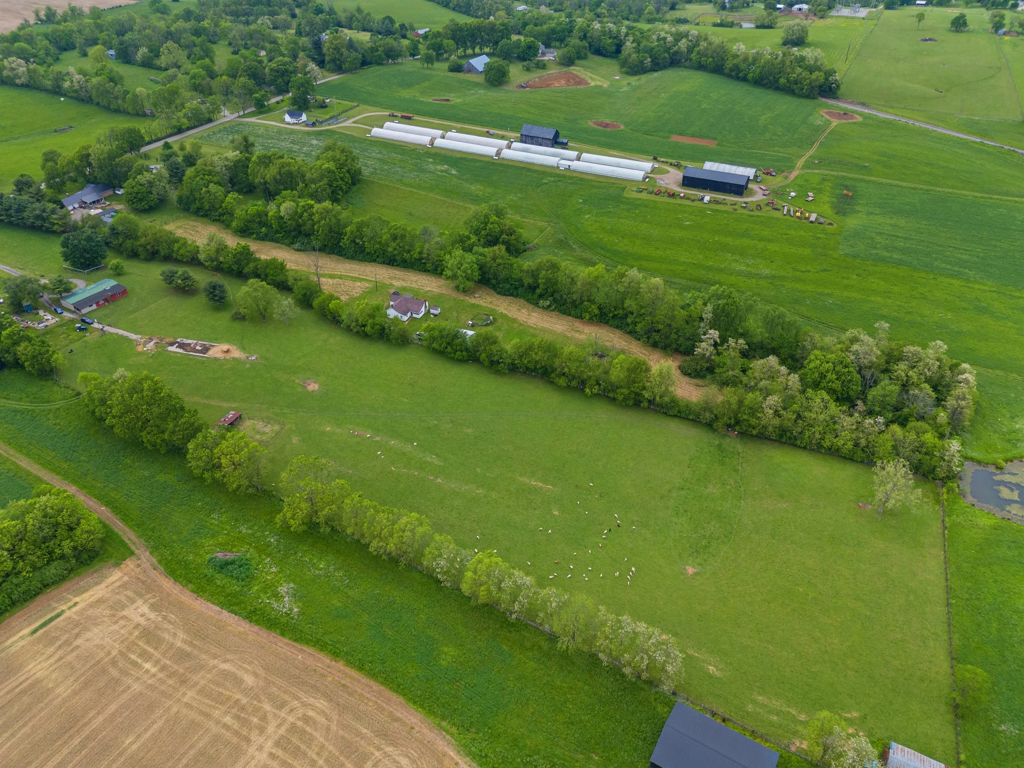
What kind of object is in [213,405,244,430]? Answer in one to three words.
shed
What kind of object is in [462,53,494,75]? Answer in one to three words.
barn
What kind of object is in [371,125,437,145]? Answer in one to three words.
greenhouse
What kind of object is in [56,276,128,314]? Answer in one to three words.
house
